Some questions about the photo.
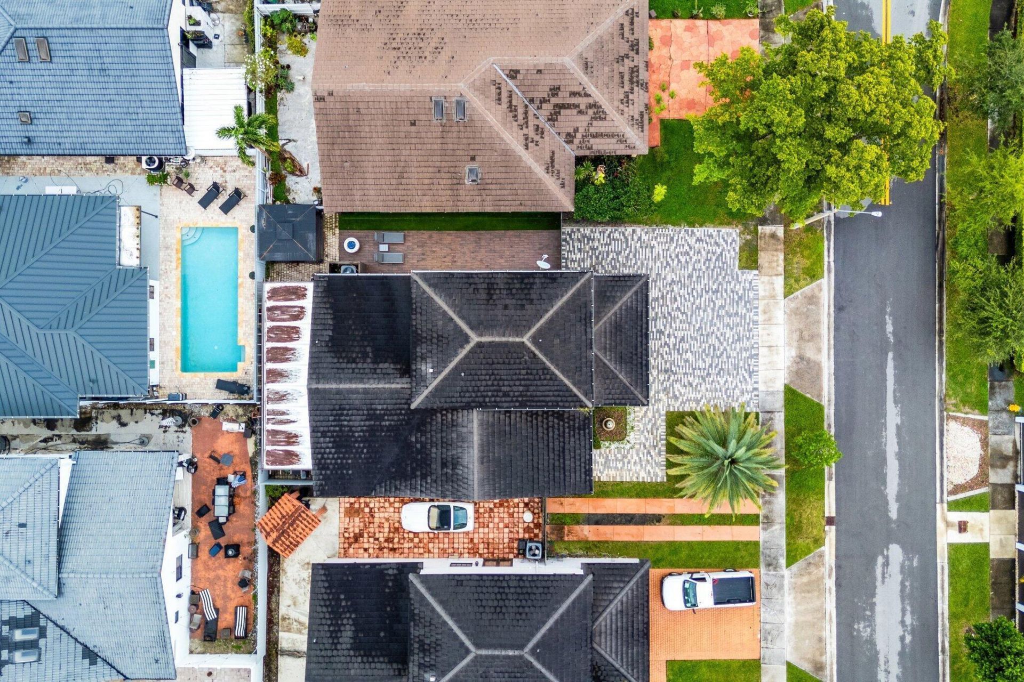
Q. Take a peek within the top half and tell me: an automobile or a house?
house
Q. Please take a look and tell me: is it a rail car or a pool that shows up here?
pool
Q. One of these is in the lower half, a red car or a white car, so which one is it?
white car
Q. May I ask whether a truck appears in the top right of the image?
No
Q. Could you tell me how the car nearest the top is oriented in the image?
from left to right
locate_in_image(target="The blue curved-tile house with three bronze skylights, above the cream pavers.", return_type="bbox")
[0,0,188,156]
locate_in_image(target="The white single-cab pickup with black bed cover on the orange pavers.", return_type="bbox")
[663,571,757,616]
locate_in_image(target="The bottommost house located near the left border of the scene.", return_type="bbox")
[0,449,191,682]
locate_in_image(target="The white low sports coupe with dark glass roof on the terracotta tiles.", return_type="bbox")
[399,503,473,540]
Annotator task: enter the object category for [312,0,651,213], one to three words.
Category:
house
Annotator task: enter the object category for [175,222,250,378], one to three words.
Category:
swimming pool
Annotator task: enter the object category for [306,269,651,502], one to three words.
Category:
house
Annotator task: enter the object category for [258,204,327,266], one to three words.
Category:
gazebo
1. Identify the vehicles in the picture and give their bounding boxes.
[399,503,473,540]
[663,571,757,616]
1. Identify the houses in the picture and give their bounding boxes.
[306,554,651,682]
[0,0,188,156]
[0,449,191,682]
[0,193,159,419]
[306,269,651,502]
[312,0,651,213]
